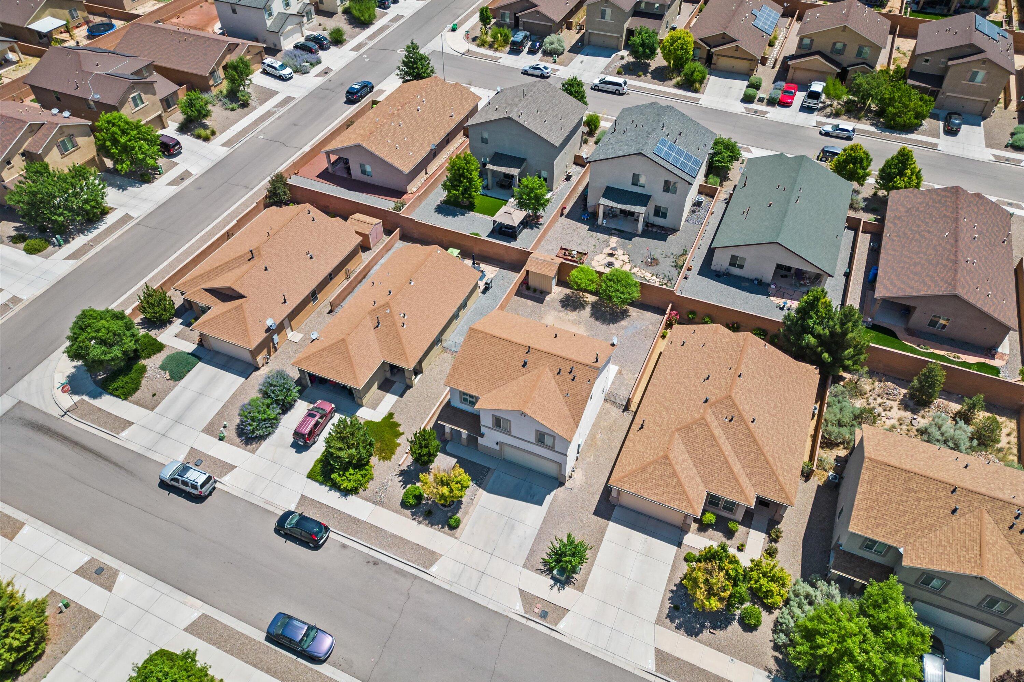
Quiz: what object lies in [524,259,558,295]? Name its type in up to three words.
shed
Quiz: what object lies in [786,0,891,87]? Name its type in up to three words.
house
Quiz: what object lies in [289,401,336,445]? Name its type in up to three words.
car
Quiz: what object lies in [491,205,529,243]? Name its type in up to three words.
gazebo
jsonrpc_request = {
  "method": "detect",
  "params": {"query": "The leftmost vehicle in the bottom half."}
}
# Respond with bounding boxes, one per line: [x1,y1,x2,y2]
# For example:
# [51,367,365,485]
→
[156,460,216,499]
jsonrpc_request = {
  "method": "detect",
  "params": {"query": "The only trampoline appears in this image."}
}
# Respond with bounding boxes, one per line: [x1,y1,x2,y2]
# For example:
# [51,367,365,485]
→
[83,13,115,35]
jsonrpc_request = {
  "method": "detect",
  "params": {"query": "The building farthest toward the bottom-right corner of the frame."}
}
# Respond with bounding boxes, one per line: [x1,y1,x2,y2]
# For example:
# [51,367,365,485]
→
[827,425,1024,647]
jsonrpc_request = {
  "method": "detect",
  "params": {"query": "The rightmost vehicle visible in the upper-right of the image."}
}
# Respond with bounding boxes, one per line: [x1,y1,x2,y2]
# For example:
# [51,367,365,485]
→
[944,110,965,131]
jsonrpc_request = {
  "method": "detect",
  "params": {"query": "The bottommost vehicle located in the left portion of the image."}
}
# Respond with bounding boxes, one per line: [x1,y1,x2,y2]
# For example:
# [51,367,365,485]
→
[261,611,336,666]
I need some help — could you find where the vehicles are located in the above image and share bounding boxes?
[156,132,180,153]
[510,31,534,51]
[526,39,547,55]
[815,144,841,161]
[289,401,336,445]
[363,0,392,9]
[156,460,216,499]
[780,83,799,104]
[944,110,965,131]
[820,122,858,140]
[296,31,326,48]
[912,629,955,682]
[261,611,336,666]
[255,57,292,78]
[274,510,333,549]
[803,82,825,106]
[344,80,374,102]
[589,74,629,94]
[517,62,552,78]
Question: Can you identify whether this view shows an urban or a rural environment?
urban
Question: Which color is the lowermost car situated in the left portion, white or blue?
blue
